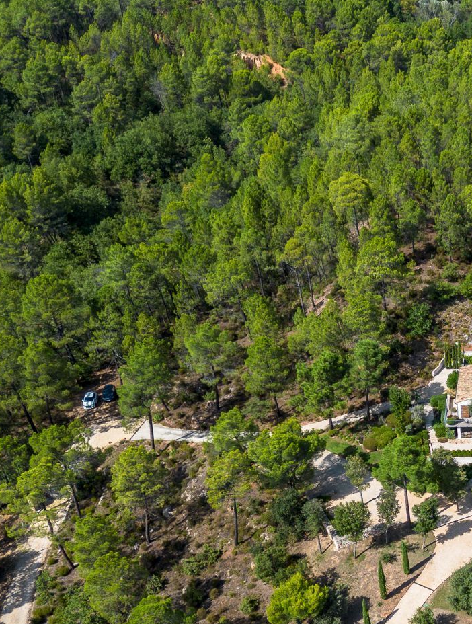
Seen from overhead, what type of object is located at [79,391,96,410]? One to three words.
car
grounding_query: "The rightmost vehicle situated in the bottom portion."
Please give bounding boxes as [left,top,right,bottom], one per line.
[99,383,116,402]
